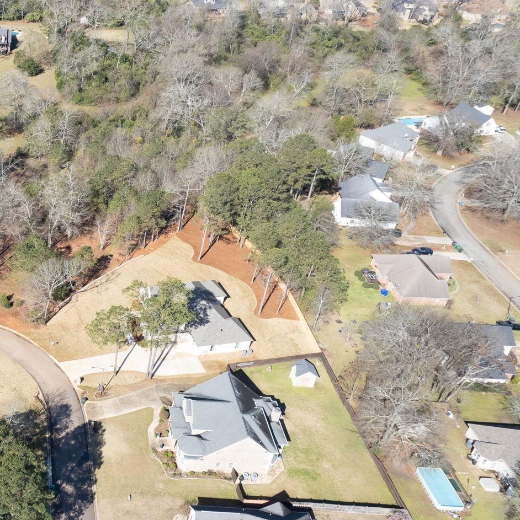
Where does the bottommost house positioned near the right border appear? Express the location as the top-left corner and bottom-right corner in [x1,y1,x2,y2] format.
[466,424,520,501]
